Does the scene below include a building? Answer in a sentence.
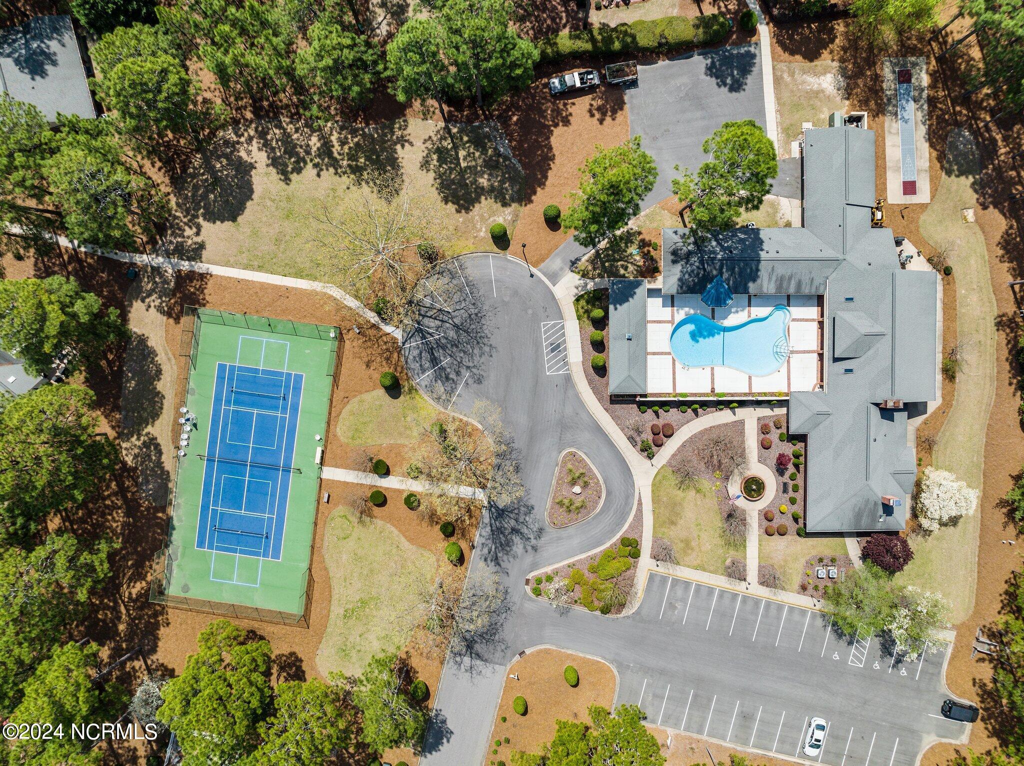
Yes, a building can be made out from above.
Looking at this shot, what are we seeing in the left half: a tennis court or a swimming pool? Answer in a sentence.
The one visible in the left half is a tennis court.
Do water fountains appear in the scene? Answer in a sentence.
Yes, the picture does show a water fountain.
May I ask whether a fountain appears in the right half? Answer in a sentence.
Yes, there is a fountain in the right half.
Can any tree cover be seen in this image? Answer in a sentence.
Yes, there's tree cover in this view.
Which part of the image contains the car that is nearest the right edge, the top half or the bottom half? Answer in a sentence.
Seen from above, the car that is nearest the right edge lies in the bottom half of the view.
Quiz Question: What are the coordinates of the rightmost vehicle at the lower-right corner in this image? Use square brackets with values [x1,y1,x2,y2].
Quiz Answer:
[939,698,978,723]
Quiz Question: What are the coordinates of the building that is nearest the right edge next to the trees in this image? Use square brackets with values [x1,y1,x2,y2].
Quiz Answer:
[661,126,937,532]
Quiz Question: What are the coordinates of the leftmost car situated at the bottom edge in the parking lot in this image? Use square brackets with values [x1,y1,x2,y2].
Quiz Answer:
[803,717,824,756]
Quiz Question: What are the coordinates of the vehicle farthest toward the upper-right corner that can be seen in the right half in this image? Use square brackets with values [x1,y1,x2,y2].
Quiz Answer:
[869,197,886,228]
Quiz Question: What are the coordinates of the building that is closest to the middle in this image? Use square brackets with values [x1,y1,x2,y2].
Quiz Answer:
[608,279,647,395]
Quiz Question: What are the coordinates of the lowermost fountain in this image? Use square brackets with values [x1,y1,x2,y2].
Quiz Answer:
[741,475,769,502]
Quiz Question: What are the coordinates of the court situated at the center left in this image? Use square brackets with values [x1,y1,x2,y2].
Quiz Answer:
[162,309,336,612]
